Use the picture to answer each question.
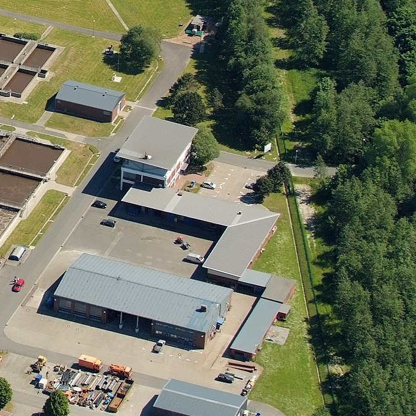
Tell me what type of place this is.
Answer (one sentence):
This image shows an industrial area.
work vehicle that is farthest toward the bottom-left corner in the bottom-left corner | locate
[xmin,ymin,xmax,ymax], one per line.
[31,355,48,371]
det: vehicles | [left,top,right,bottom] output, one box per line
[202,181,217,188]
[15,280,24,290]
[79,353,102,370]
[31,355,48,371]
[187,251,205,262]
[101,218,116,226]
[93,201,107,207]
[176,234,185,242]
[109,364,132,377]
[243,181,256,189]
[154,339,165,351]
[217,374,234,382]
